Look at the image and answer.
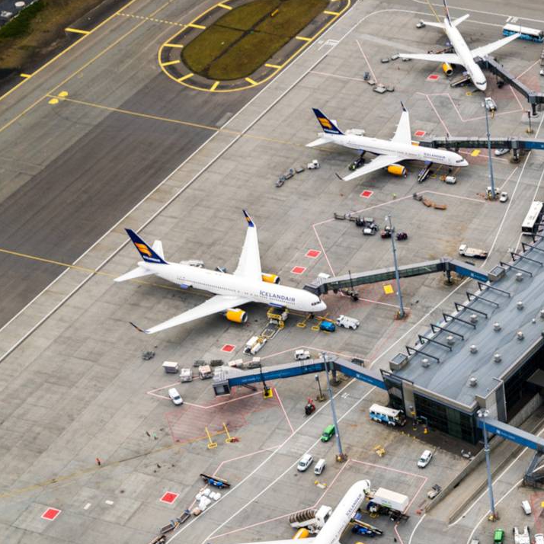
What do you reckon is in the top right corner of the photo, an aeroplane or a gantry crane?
aeroplane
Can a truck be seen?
Yes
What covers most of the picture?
paved ground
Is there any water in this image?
No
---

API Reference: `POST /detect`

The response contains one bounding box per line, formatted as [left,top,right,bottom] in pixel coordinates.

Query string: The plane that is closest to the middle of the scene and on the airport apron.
[118,217,319,336]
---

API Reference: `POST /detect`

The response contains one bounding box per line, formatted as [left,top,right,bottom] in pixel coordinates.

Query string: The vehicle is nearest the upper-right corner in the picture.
[505,24,544,43]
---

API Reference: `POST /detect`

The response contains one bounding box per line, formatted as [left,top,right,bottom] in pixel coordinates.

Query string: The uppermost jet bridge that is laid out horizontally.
[419,137,544,167]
